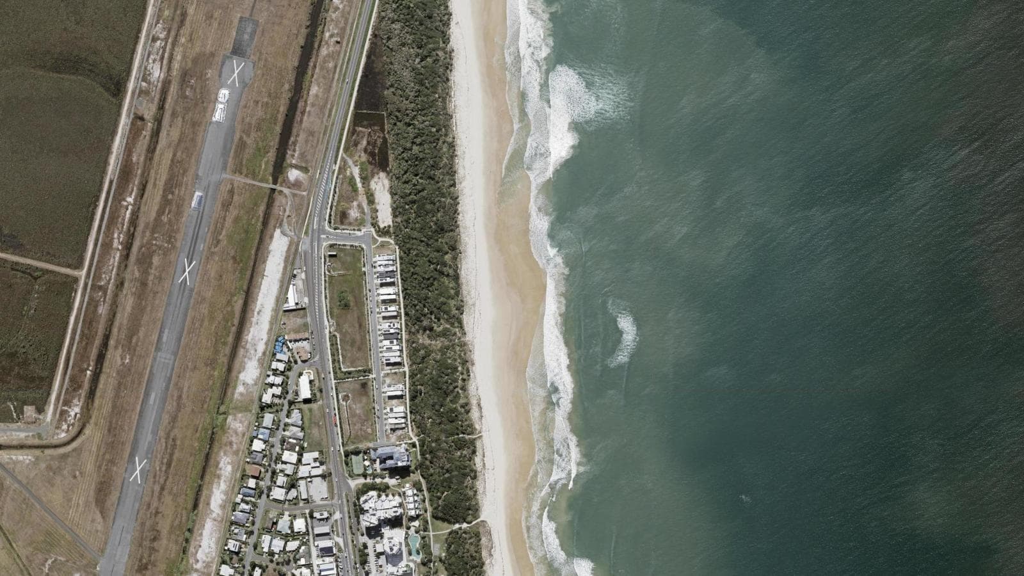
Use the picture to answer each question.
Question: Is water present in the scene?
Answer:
Yes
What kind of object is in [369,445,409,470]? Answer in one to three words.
building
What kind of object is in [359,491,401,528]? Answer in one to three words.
building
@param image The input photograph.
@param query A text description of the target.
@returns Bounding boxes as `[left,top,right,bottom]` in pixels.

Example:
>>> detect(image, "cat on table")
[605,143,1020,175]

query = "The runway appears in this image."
[101,54,254,576]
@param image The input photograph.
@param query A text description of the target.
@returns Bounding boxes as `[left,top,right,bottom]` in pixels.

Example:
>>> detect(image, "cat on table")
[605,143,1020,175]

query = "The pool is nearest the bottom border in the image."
[409,533,422,560]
